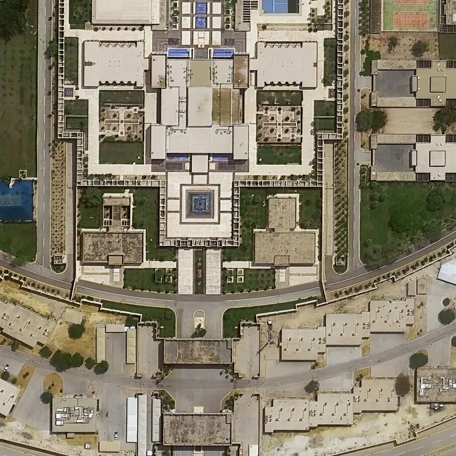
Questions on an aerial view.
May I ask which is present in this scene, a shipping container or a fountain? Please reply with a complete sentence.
The one in the frame is a fountain.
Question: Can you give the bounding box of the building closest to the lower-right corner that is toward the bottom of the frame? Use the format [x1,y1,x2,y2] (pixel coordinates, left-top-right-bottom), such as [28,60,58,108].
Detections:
[417,367,456,403]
